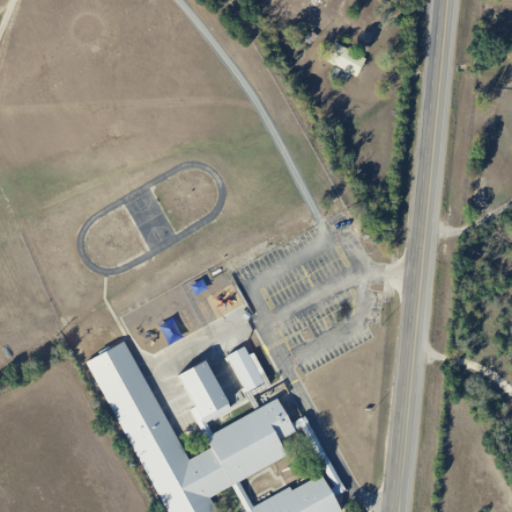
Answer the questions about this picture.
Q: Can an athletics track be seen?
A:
Yes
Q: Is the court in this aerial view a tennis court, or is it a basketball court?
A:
basketball court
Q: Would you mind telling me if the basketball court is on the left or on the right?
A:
left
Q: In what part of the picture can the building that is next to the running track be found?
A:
bottom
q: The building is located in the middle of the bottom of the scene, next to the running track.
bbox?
[87,342,342,512]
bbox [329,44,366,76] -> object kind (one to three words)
house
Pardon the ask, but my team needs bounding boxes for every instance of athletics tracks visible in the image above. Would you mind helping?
[78,162,226,274]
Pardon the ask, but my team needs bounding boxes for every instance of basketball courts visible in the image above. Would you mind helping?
[126,189,176,250]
